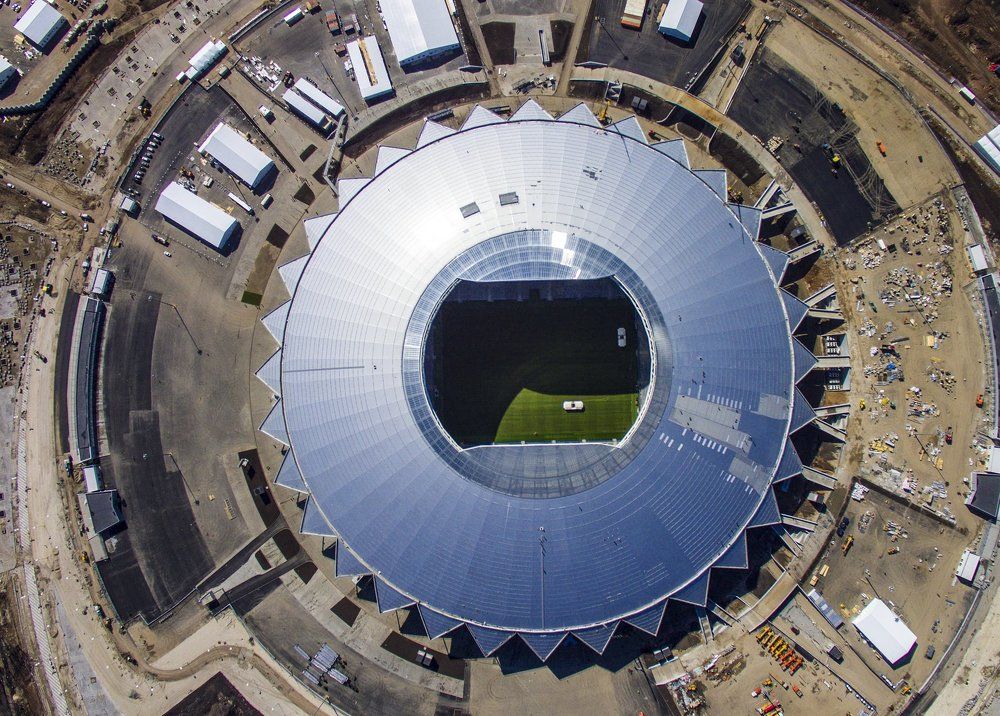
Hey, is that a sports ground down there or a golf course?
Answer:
sports ground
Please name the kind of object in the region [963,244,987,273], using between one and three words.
building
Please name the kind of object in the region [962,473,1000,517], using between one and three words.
building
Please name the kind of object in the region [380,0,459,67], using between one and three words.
shed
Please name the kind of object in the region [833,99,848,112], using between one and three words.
vehicle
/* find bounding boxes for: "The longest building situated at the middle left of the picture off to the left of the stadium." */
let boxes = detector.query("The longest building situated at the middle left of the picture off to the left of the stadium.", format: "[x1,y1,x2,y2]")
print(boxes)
[75,300,104,460]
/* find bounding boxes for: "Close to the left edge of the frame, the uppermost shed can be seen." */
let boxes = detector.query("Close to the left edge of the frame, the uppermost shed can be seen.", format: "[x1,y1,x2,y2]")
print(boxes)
[15,0,67,49]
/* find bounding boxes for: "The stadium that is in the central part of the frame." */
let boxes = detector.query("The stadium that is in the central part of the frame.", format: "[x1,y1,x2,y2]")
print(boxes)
[255,98,819,661]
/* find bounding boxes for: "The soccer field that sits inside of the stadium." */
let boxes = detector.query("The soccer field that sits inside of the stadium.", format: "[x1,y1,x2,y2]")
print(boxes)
[428,294,643,446]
